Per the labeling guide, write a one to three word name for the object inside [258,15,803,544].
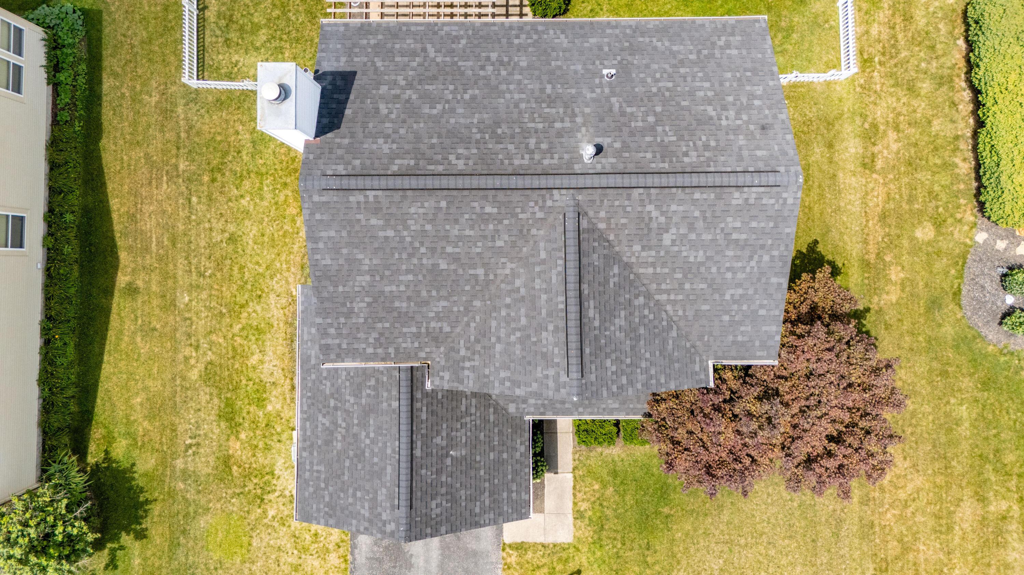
house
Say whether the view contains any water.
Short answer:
No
